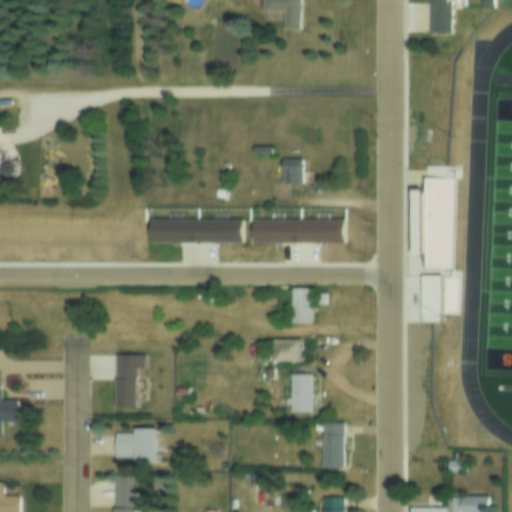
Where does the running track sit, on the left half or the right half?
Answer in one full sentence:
It is on the right.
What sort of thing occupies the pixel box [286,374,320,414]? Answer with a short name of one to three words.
house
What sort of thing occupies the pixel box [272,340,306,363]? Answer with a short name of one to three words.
house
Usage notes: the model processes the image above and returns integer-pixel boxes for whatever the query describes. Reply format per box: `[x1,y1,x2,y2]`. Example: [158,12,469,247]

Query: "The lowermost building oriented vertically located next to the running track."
[421,274,444,323]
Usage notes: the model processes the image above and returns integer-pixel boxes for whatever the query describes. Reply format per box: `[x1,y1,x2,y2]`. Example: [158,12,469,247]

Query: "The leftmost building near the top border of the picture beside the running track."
[430,0,469,33]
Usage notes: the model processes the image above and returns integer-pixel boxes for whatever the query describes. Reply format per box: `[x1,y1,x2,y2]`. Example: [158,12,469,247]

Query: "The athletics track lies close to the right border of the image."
[462,24,512,456]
